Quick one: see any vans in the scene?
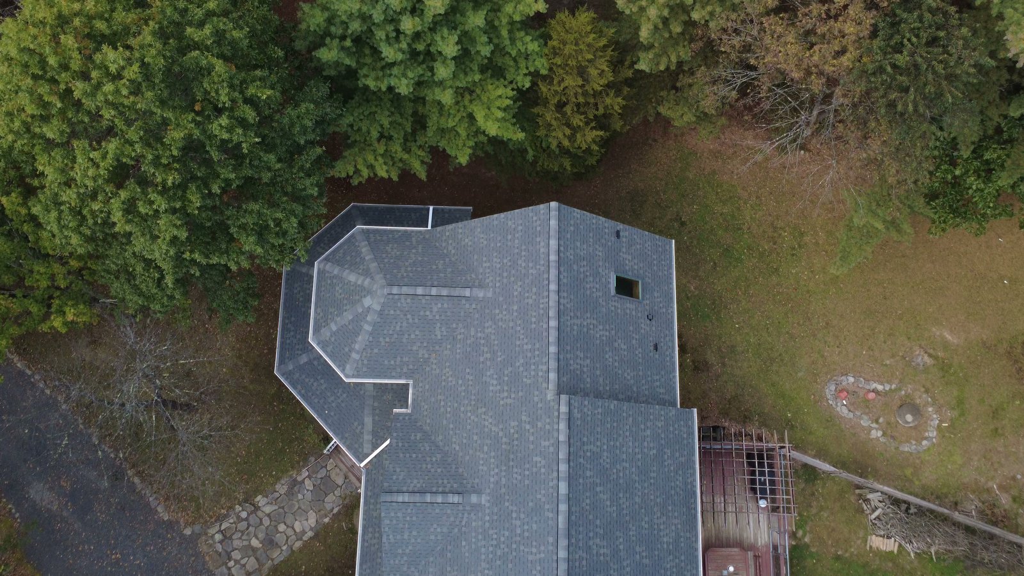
No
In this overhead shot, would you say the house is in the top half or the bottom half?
bottom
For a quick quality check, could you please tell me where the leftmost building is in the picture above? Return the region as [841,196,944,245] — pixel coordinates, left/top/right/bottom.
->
[272,200,705,576]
